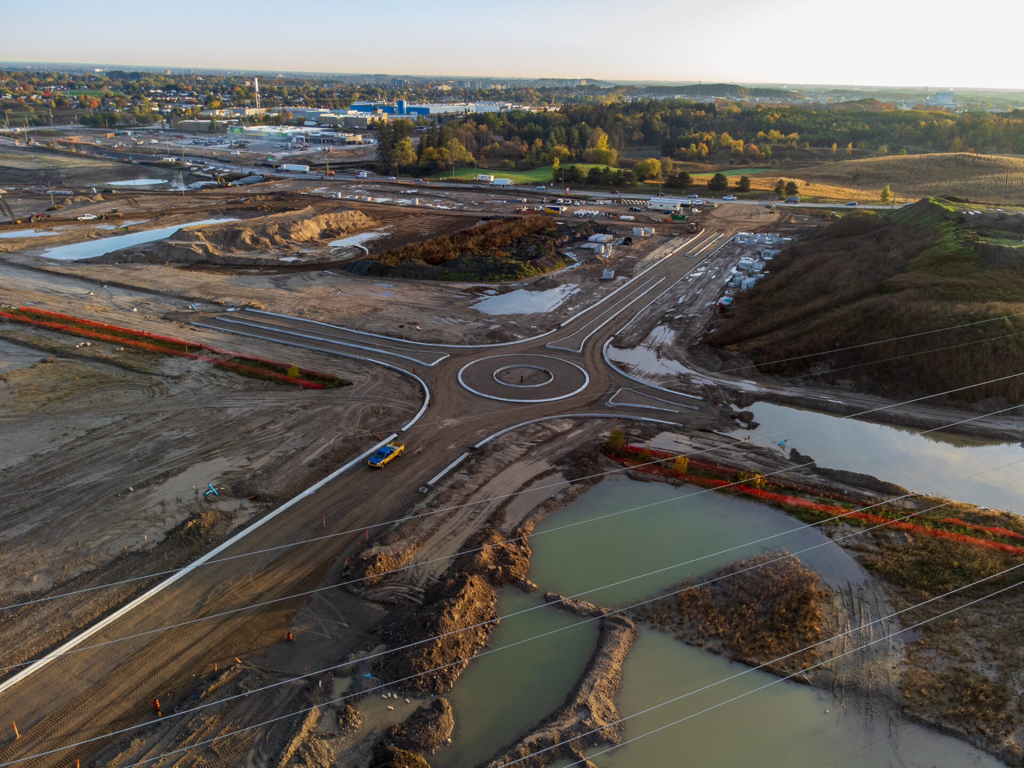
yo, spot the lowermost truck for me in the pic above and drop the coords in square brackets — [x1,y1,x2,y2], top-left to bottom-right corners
[365,439,406,466]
